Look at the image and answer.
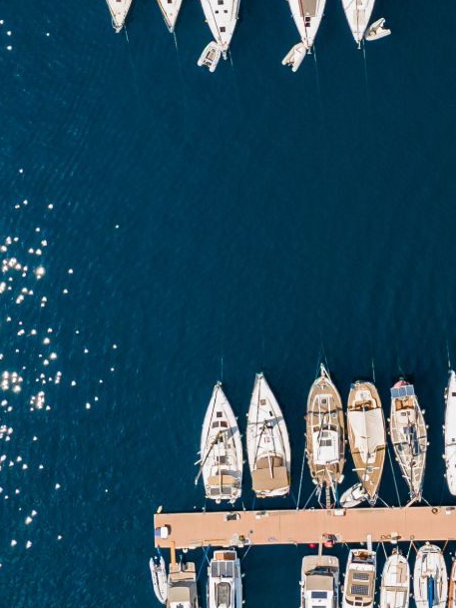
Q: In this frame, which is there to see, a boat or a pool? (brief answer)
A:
boat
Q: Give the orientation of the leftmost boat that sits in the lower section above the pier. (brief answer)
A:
from top to bottom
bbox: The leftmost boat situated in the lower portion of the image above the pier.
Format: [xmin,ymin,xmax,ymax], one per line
[194,376,246,508]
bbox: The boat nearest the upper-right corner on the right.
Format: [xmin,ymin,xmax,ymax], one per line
[365,20,392,42]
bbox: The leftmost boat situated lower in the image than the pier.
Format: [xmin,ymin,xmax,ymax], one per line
[148,558,167,604]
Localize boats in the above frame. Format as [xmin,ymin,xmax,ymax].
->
[158,540,210,608]
[339,0,375,53]
[194,376,246,508]
[386,370,432,509]
[365,20,392,42]
[148,558,167,604]
[202,0,240,59]
[440,366,456,505]
[344,369,399,510]
[297,360,348,515]
[297,534,344,608]
[339,483,368,509]
[286,0,325,57]
[283,43,305,72]
[245,367,297,508]
[199,41,221,72]
[411,541,449,608]
[203,546,251,608]
[340,535,379,608]
[377,540,413,608]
